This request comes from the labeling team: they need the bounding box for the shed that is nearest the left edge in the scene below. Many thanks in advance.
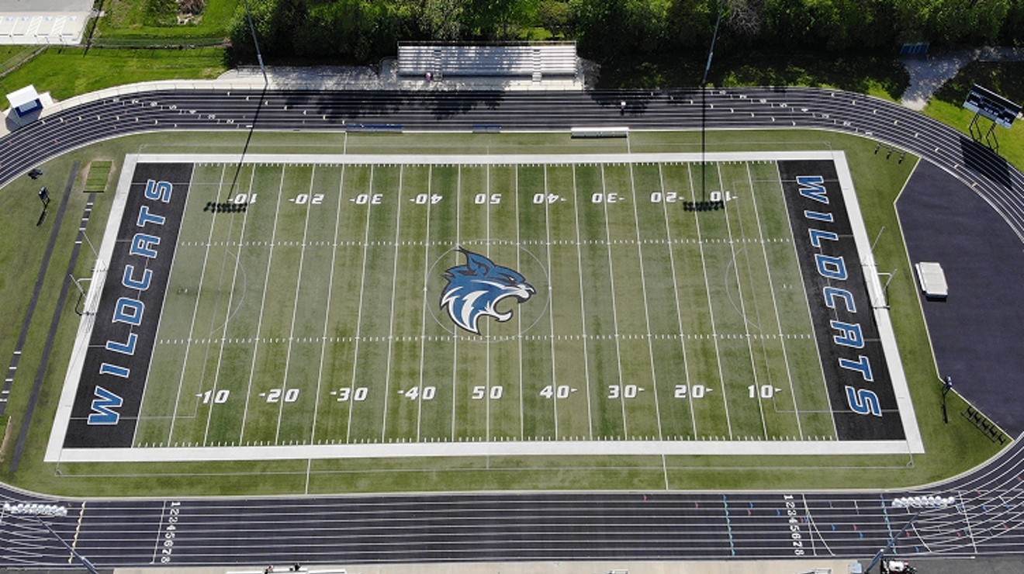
[9,82,49,117]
